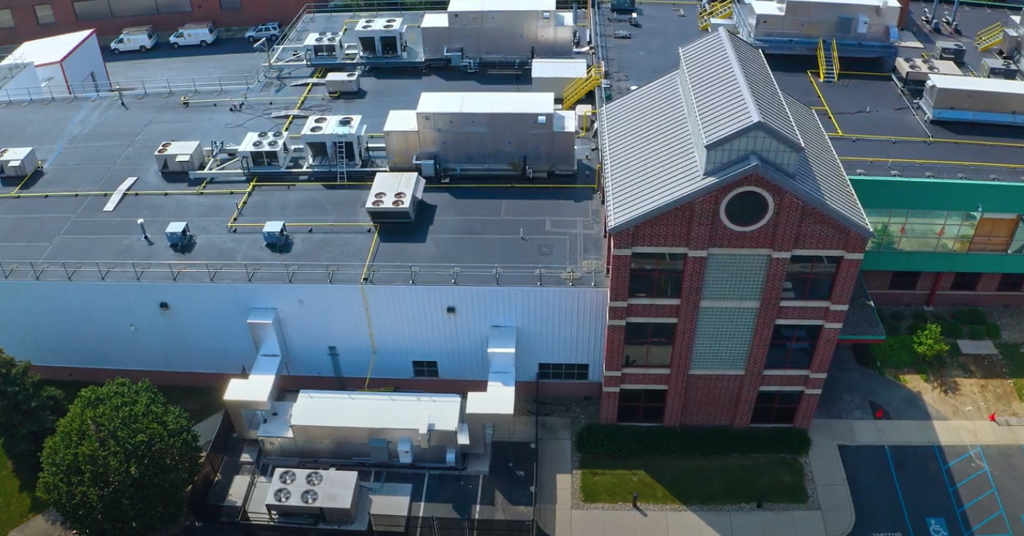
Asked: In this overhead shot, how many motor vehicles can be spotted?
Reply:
three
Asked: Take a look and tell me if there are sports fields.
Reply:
No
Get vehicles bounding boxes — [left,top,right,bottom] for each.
[170,21,222,48]
[244,19,288,41]
[108,25,161,53]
